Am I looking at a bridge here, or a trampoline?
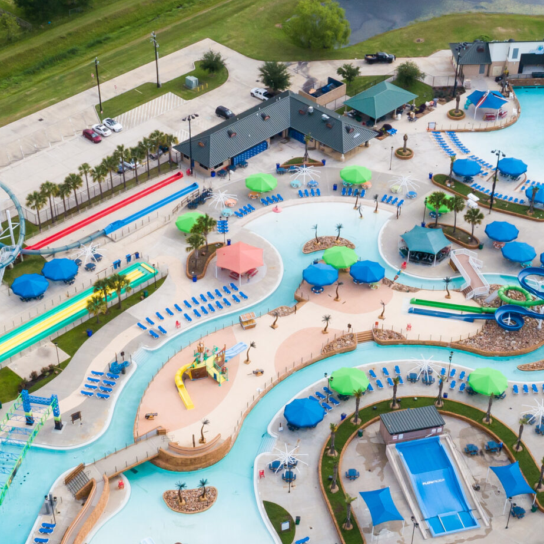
bridge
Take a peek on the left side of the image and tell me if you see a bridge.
Yes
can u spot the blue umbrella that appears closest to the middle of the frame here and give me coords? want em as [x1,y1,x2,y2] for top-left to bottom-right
[303,262,339,285]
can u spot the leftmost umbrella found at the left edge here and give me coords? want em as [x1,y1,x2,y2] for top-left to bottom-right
[12,276,47,301]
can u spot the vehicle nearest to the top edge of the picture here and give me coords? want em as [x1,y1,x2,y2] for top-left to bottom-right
[365,50,396,63]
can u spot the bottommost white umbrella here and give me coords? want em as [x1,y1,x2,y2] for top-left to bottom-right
[263,444,307,474]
